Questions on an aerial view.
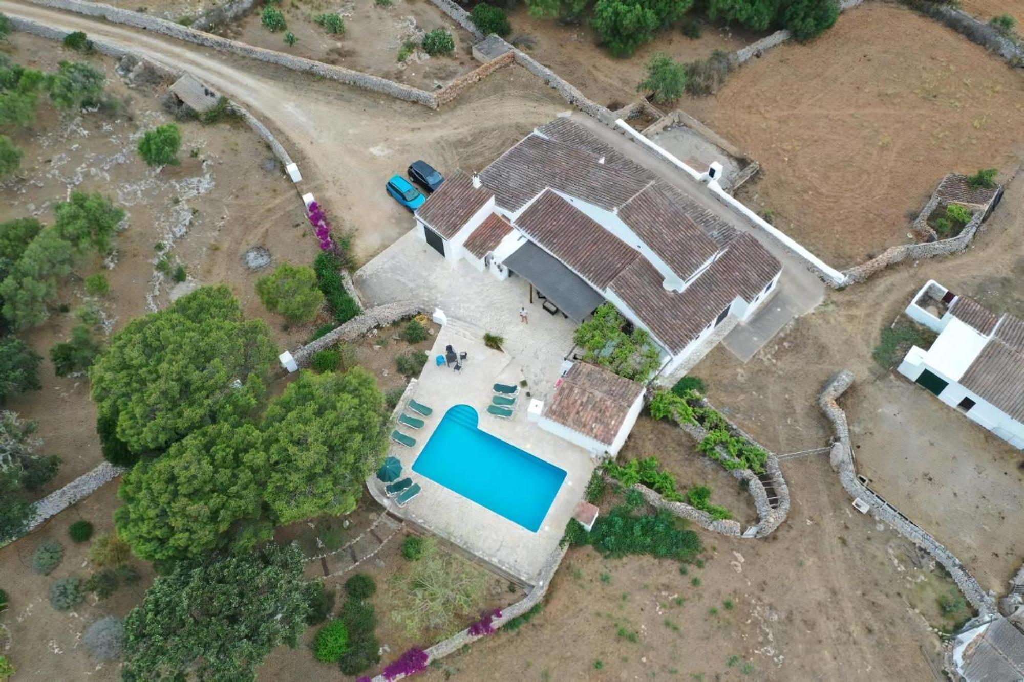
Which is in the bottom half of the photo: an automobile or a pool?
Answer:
pool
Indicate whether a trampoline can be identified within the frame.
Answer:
No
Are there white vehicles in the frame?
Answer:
No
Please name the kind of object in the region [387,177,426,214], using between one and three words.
car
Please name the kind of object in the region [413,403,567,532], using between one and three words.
swimming pool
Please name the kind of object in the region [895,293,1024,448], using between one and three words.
building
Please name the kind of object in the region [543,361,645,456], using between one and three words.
shed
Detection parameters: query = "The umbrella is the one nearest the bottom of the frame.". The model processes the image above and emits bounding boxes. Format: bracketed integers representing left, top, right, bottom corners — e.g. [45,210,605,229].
[377,458,406,485]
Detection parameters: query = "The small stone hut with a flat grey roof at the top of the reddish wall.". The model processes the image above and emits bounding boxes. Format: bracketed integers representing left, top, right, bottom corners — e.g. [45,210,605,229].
[473,35,513,66]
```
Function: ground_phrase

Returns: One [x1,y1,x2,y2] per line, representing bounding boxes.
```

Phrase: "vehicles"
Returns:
[387,177,426,214]
[408,162,444,197]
